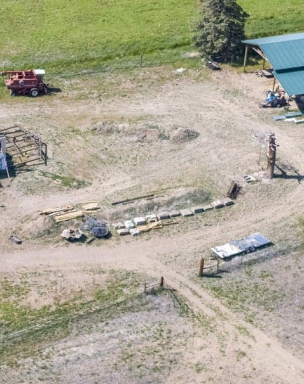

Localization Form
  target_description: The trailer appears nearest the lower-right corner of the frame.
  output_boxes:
[210,233,271,261]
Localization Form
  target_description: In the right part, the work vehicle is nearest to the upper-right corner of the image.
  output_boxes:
[259,90,287,108]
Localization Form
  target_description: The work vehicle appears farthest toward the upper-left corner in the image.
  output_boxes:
[0,70,51,101]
